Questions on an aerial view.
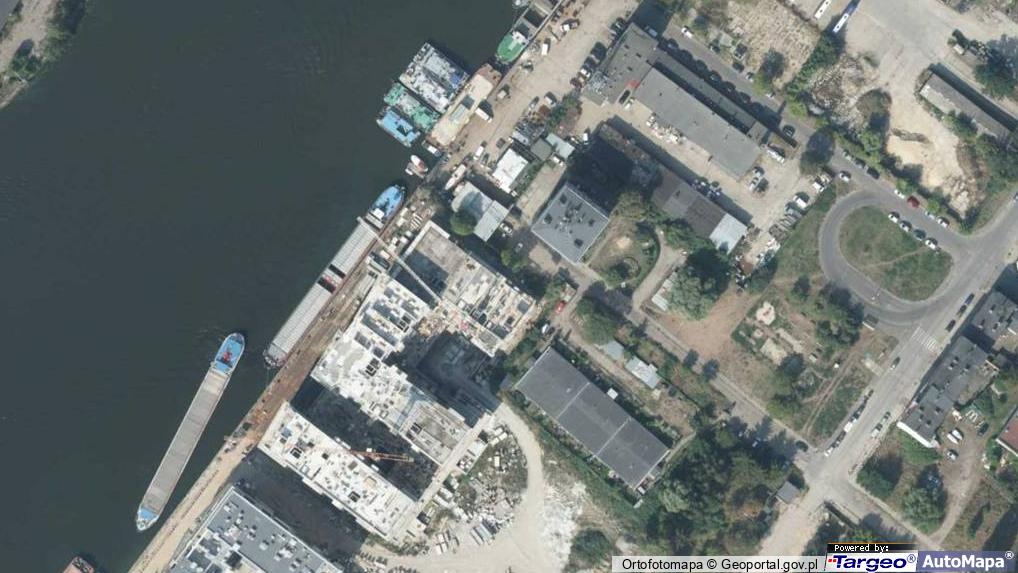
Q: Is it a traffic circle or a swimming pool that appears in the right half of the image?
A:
traffic circle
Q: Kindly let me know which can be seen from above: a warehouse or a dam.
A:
warehouse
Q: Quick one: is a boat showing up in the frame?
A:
Yes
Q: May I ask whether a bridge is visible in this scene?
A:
No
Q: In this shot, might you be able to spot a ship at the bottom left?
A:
Yes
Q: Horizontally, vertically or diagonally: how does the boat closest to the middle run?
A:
diagonally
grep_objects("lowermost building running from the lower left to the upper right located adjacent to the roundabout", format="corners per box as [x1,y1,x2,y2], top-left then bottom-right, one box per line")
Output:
[890,335,989,444]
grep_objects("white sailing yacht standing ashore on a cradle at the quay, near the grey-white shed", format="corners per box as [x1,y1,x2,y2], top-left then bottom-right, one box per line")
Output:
[446,164,468,190]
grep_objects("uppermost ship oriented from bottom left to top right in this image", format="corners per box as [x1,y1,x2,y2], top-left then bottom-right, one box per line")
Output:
[496,0,563,60]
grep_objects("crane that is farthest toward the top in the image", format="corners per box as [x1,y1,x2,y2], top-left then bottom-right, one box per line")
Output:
[357,218,453,316]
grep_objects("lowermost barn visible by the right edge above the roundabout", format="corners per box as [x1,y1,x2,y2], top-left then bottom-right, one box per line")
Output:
[920,73,1018,154]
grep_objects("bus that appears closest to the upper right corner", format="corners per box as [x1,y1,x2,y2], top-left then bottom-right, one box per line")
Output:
[831,0,862,32]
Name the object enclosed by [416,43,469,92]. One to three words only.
boat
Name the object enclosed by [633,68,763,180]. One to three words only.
building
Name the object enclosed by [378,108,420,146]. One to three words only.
boat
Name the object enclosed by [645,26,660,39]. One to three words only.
vehicle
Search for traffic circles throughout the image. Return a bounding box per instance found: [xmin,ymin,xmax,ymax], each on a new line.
[821,187,974,326]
